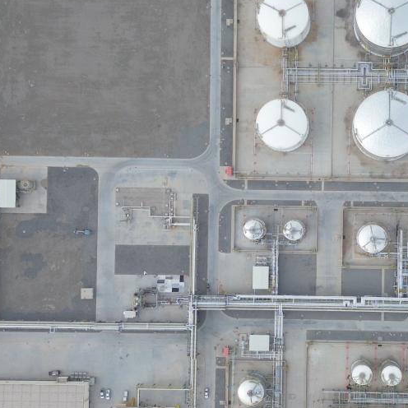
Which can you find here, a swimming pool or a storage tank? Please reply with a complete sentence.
I can see a storage tank in this picture.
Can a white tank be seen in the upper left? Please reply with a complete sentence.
No, I see no white tank in the upper left.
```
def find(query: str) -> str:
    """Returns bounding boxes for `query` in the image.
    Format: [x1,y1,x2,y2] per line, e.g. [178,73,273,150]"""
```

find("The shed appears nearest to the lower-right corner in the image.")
[249,334,270,351]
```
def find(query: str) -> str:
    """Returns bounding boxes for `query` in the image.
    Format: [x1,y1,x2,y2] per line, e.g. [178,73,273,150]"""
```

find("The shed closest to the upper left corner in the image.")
[0,180,19,208]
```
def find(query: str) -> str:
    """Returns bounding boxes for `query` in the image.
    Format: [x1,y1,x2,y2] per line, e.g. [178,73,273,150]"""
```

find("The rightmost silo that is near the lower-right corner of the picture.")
[379,360,403,388]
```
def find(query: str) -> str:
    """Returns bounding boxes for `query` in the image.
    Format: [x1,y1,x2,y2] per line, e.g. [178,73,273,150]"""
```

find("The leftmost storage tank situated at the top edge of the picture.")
[256,0,312,51]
